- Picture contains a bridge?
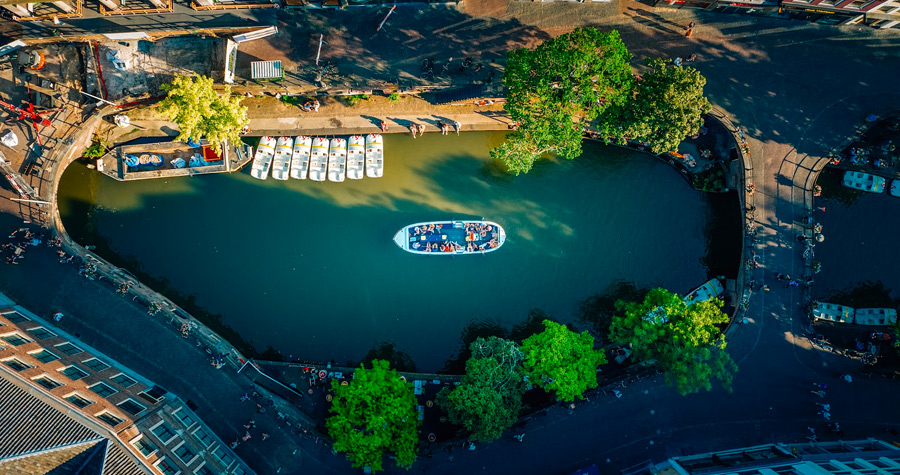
Yes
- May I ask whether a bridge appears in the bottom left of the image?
No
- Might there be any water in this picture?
Yes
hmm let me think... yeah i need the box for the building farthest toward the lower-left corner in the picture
[0,293,261,475]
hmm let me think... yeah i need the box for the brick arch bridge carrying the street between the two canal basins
[728,164,815,317]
